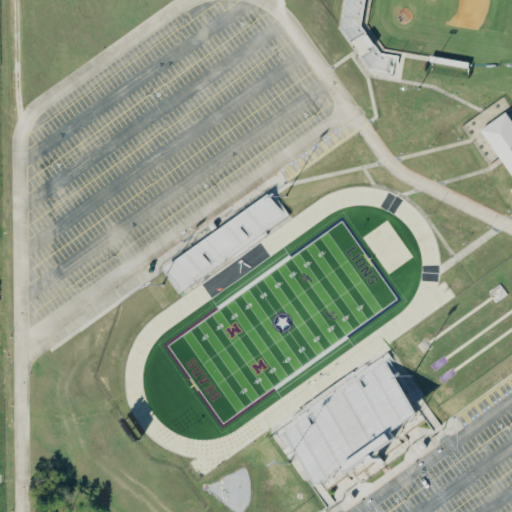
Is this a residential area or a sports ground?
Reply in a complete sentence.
It's a sports ground.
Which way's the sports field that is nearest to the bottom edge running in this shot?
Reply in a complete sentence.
I'd say the sports field that is nearest to the bottom edge is aligned diagonally in the picture.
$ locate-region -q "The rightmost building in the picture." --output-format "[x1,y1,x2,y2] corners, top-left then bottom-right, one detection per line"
[482,113,512,174]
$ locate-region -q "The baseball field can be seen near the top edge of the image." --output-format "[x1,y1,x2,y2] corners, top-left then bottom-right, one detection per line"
[369,0,512,66]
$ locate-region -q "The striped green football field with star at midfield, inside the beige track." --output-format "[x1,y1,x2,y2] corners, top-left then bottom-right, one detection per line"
[144,206,422,440]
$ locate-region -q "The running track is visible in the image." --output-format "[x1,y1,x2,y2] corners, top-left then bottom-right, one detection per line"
[126,187,455,475]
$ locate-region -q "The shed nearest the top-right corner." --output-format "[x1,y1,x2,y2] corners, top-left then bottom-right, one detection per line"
[428,56,472,78]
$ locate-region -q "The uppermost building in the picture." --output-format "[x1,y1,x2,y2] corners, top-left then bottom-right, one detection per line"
[352,34,378,58]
